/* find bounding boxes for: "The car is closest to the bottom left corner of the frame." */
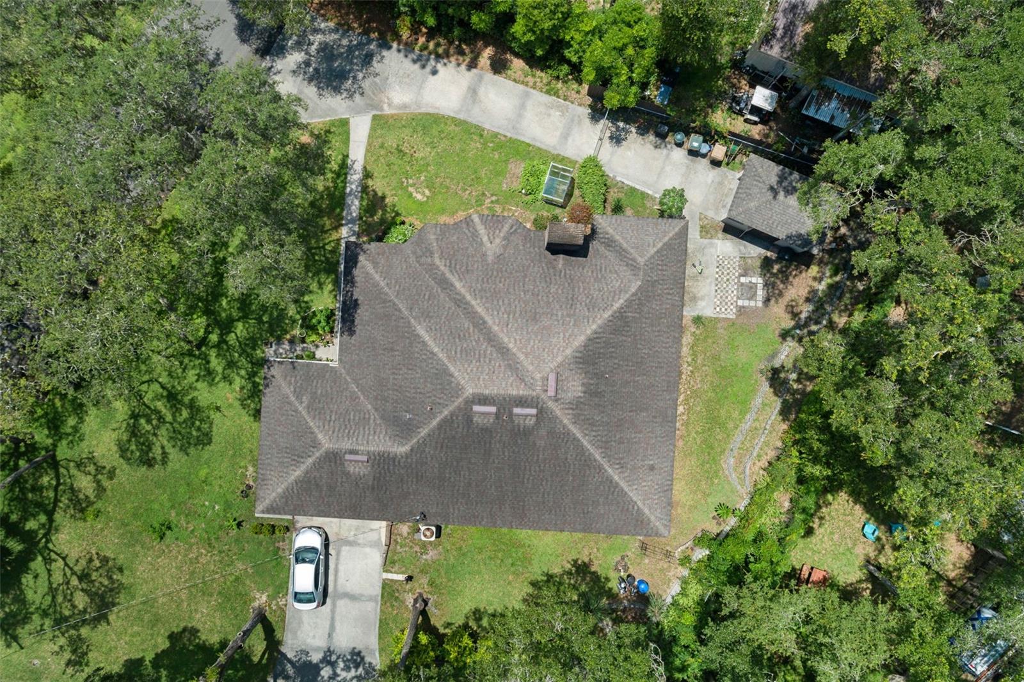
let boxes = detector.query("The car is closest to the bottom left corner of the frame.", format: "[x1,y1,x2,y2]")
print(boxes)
[288,524,329,611]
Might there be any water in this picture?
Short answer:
No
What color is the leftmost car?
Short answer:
white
